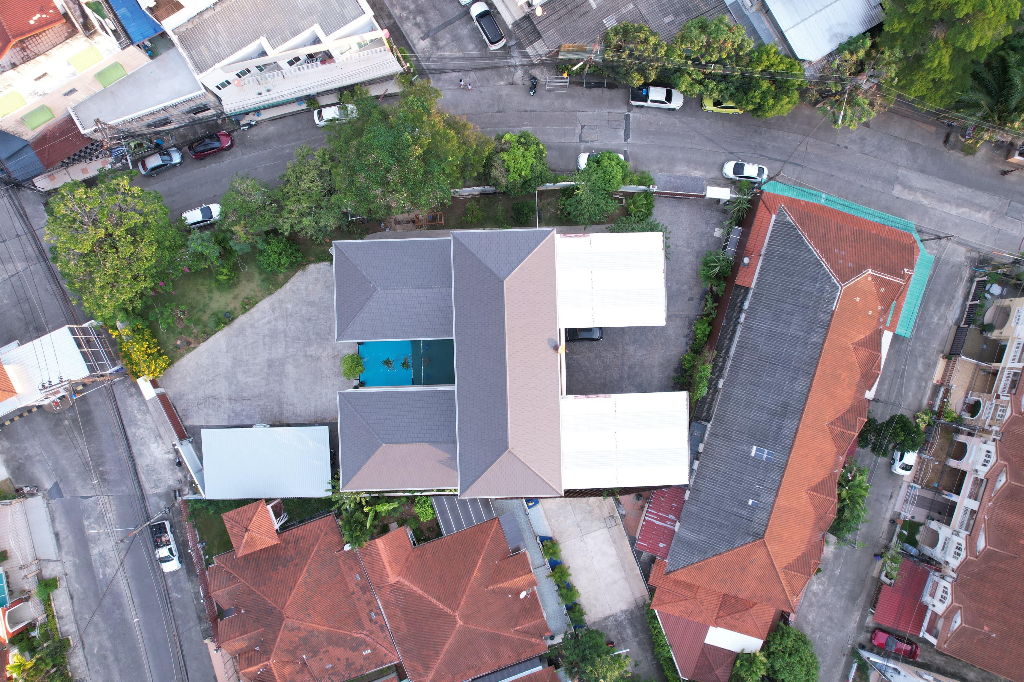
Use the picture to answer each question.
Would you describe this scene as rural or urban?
urban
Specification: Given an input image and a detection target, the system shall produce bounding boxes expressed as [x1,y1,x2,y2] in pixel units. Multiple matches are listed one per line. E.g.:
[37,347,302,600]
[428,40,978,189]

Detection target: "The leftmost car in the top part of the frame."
[135,146,186,176]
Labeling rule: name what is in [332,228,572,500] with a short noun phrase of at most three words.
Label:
house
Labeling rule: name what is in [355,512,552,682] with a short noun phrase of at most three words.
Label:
house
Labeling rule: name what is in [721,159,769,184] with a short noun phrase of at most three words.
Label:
car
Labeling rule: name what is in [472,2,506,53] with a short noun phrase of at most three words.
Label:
car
